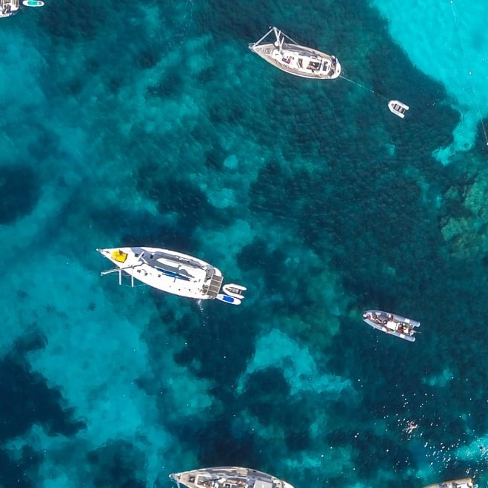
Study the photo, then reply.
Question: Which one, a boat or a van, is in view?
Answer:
boat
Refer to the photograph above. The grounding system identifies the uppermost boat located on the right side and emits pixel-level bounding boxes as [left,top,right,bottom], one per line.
[249,27,341,80]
